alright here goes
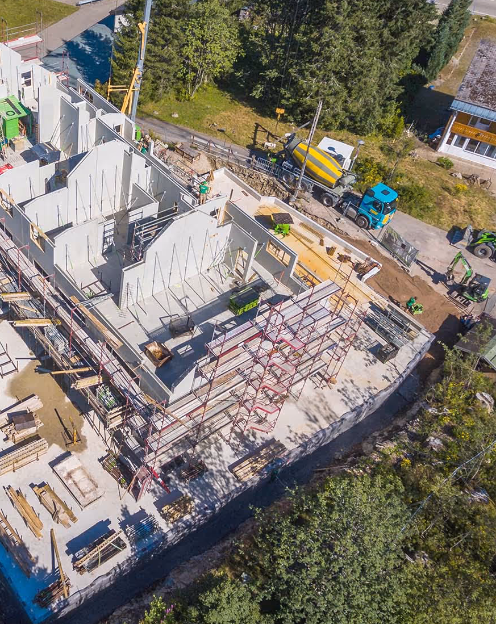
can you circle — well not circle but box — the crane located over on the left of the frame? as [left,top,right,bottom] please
[83,0,153,154]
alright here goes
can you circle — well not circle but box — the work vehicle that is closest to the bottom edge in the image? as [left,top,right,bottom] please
[438,246,494,309]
